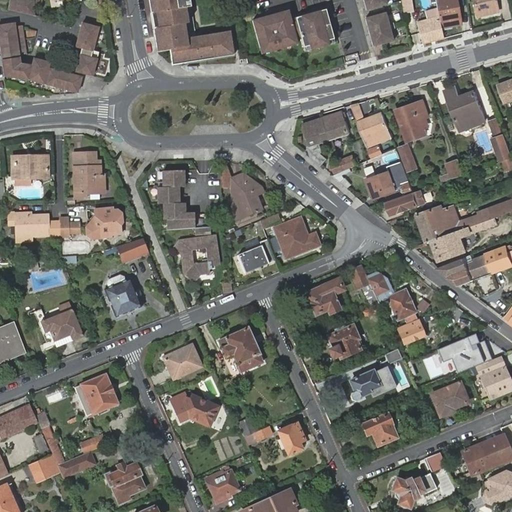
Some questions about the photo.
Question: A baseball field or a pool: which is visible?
pool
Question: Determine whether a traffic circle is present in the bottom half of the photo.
No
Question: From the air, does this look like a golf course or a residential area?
residential area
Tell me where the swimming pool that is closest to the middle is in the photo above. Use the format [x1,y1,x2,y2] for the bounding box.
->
[203,376,220,397]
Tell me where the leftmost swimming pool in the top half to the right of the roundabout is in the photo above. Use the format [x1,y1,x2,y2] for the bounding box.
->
[380,149,400,165]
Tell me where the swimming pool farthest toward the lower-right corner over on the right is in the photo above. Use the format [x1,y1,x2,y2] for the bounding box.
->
[394,364,409,388]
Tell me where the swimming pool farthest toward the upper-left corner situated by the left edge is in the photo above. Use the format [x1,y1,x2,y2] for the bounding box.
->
[16,187,42,199]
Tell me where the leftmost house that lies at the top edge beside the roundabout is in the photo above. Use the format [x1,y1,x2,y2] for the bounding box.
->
[0,22,84,94]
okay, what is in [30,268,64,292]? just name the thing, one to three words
swimming pool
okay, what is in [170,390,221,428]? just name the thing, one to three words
house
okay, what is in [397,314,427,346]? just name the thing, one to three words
house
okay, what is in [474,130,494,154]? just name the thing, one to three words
swimming pool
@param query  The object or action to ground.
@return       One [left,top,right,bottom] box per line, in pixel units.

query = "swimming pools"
[203,376,220,397]
[474,130,494,154]
[380,149,400,165]
[394,364,409,388]
[16,187,42,199]
[30,268,64,292]
[420,0,433,10]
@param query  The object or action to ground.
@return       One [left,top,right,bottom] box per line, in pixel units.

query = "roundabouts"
[98,57,300,164]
